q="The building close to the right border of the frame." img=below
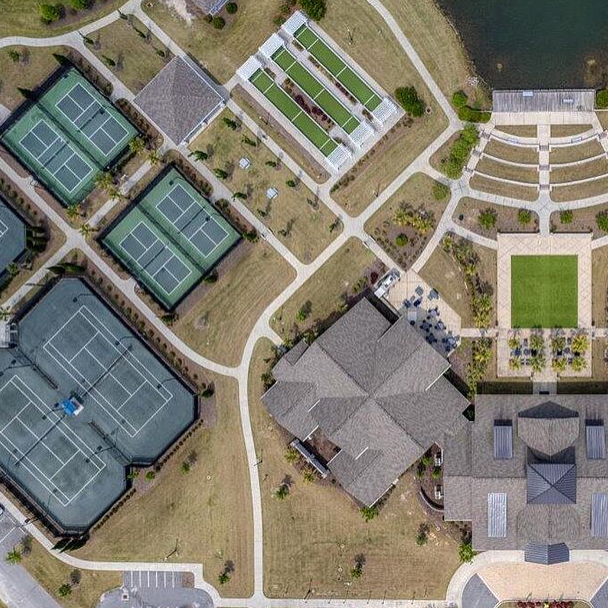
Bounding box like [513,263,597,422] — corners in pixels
[423,394,608,565]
